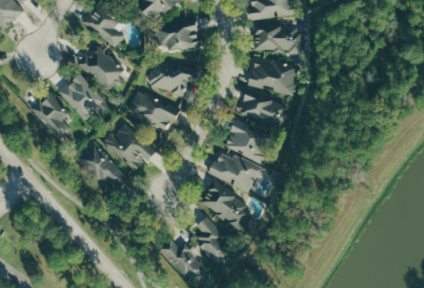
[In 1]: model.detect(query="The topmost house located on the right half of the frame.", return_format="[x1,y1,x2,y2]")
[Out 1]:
[247,0,296,24]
